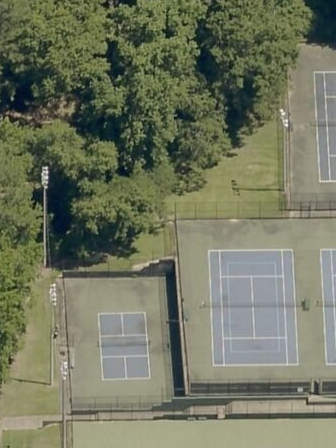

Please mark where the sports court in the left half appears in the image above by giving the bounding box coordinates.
[100,313,148,379]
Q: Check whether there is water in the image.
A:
No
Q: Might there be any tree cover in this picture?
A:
Yes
